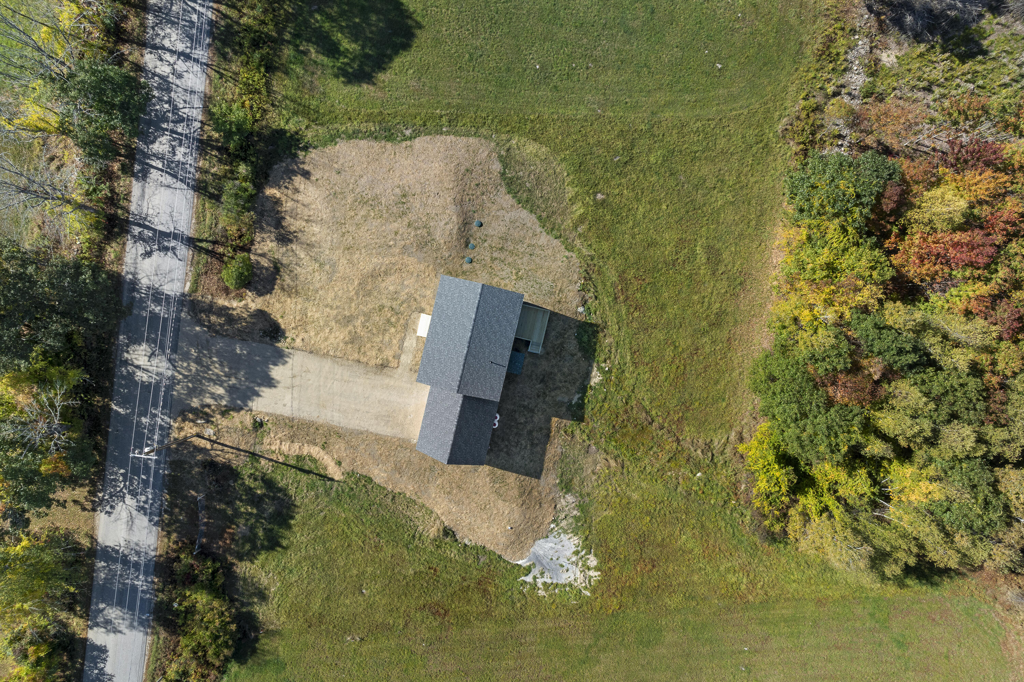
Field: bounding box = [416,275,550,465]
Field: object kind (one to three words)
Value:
house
